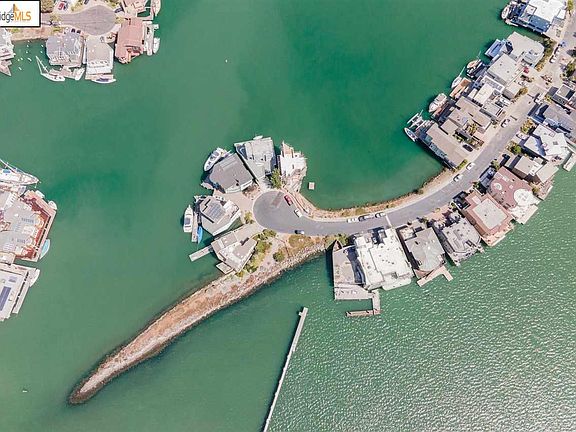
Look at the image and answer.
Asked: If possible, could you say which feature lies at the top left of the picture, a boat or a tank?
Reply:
boat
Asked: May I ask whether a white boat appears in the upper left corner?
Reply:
Yes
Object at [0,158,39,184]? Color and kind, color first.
white boat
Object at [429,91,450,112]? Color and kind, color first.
white boat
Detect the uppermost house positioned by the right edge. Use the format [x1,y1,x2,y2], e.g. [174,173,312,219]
[510,0,567,40]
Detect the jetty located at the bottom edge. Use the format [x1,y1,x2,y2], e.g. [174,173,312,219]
[263,307,308,432]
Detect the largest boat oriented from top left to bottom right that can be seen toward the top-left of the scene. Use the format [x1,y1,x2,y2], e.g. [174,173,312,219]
[33,53,67,82]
